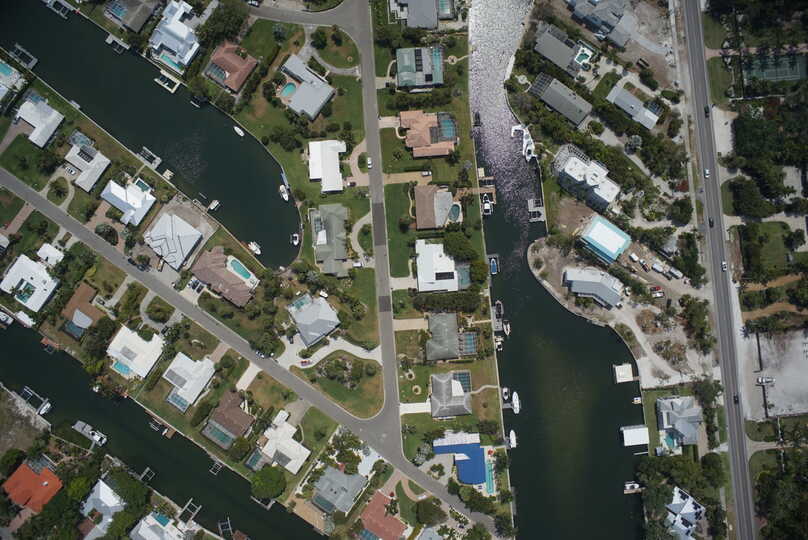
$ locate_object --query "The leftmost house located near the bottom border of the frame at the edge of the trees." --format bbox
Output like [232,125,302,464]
[3,453,66,513]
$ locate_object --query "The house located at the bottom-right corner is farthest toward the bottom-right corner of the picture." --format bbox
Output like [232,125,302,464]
[664,487,705,540]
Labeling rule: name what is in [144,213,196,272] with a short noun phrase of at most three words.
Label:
house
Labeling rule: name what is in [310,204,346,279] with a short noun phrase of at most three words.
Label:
house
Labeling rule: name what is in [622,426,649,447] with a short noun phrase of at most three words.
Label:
building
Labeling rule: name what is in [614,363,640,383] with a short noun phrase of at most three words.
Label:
building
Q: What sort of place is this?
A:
residential area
